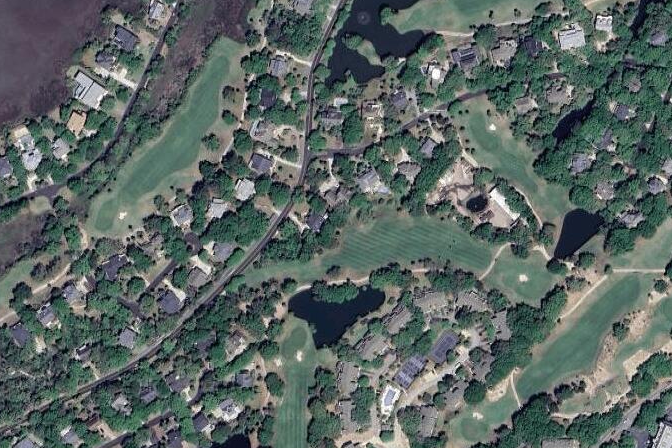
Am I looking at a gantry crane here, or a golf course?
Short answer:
golf course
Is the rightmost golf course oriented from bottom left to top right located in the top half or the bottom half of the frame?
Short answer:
bottom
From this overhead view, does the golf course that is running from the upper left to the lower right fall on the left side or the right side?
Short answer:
right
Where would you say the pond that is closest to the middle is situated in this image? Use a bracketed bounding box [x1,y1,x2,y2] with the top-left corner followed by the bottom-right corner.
[287,283,386,349]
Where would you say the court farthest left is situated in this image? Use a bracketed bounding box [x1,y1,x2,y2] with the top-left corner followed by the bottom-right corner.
[394,350,425,385]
